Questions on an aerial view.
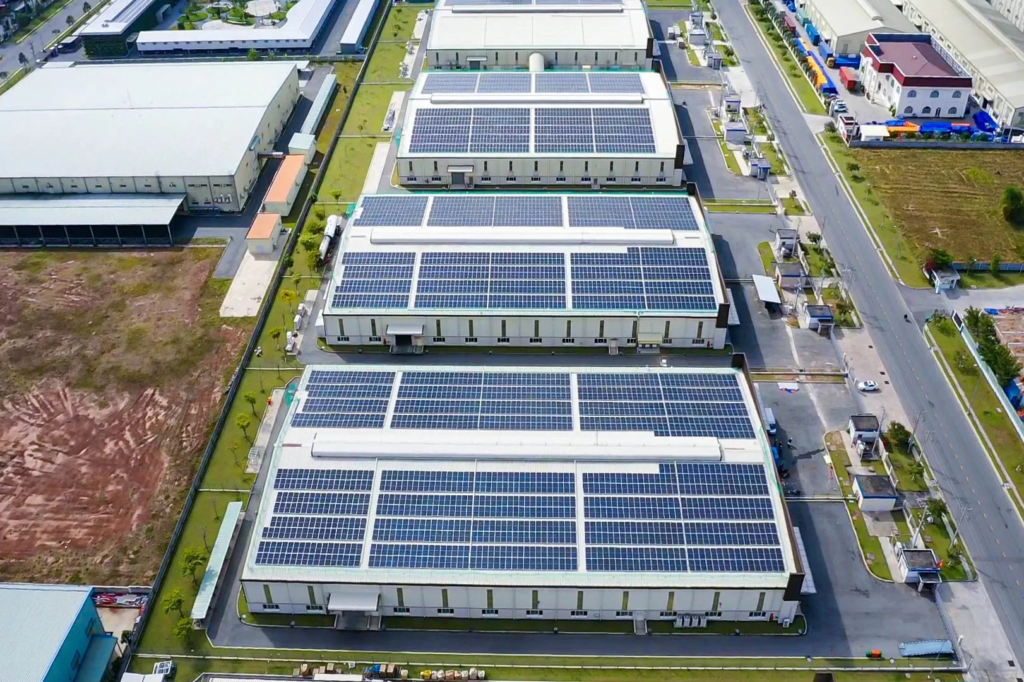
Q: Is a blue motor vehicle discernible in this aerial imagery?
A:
Yes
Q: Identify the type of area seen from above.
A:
industrial area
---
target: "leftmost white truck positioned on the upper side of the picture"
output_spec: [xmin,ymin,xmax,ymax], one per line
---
[316,217,339,269]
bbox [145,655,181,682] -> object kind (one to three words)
truck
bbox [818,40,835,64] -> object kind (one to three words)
vehicle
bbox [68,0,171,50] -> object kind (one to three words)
building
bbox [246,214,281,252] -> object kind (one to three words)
shed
